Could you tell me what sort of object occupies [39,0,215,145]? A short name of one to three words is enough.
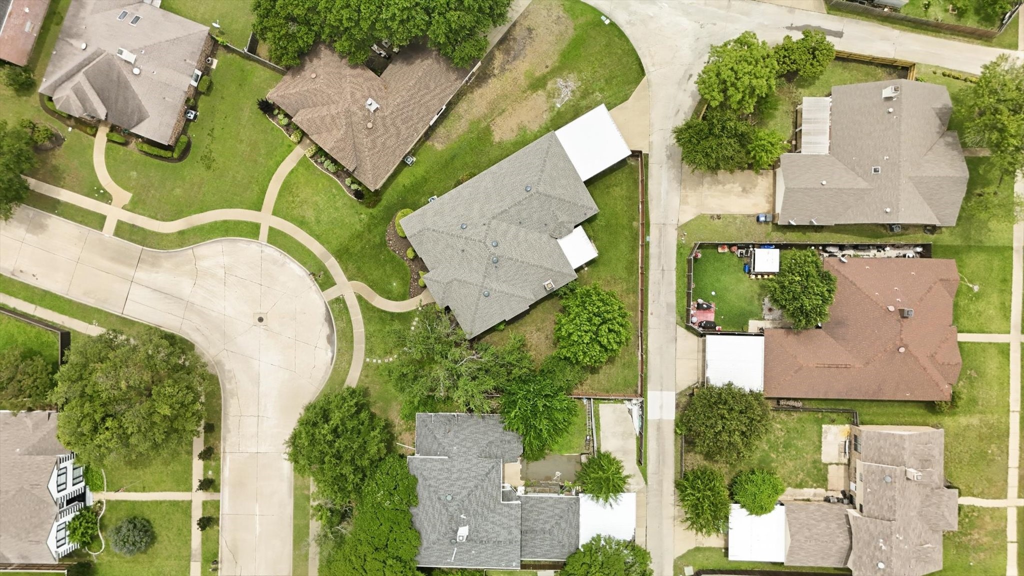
house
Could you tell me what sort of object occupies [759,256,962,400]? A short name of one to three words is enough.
house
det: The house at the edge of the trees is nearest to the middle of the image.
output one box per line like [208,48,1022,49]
[400,131,599,337]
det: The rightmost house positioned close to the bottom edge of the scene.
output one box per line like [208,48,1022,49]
[784,426,958,576]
